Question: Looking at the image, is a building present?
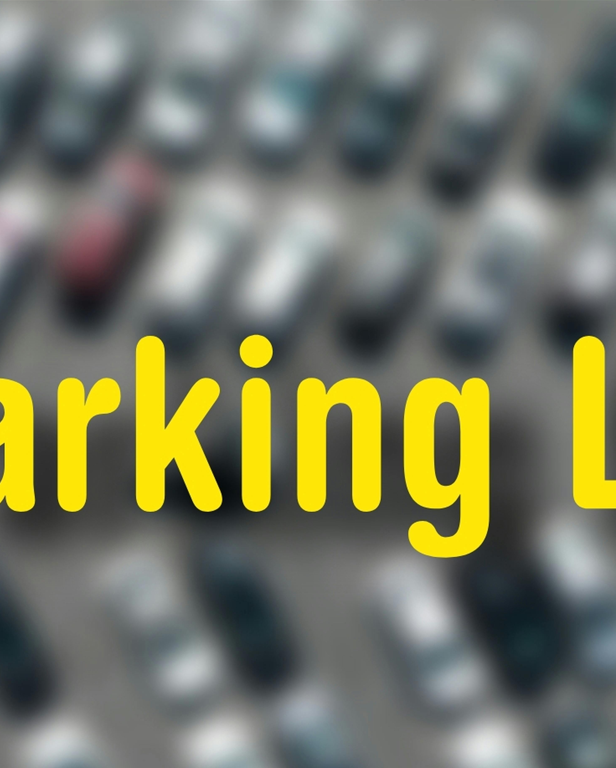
No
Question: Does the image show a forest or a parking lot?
parking lot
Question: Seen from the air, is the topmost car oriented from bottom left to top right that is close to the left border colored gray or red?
gray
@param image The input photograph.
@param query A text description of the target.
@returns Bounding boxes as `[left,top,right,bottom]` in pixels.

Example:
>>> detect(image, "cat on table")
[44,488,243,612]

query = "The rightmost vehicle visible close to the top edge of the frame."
[530,37,616,197]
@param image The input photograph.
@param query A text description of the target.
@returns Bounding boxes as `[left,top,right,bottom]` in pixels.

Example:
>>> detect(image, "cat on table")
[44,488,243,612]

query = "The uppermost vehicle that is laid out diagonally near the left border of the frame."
[31,27,152,180]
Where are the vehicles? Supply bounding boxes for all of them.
[31,27,152,180]
[422,46,537,200]
[238,2,359,164]
[529,517,616,688]
[326,200,444,356]
[183,528,311,703]
[0,550,61,722]
[535,190,616,345]
[319,28,444,188]
[355,542,483,714]
[530,37,616,197]
[186,719,273,768]
[272,699,372,768]
[21,711,108,768]
[437,531,572,708]
[44,166,168,319]
[135,185,261,344]
[0,21,47,140]
[139,0,261,161]
[435,197,551,351]
[227,197,347,352]
[0,191,51,324]
[93,542,217,710]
